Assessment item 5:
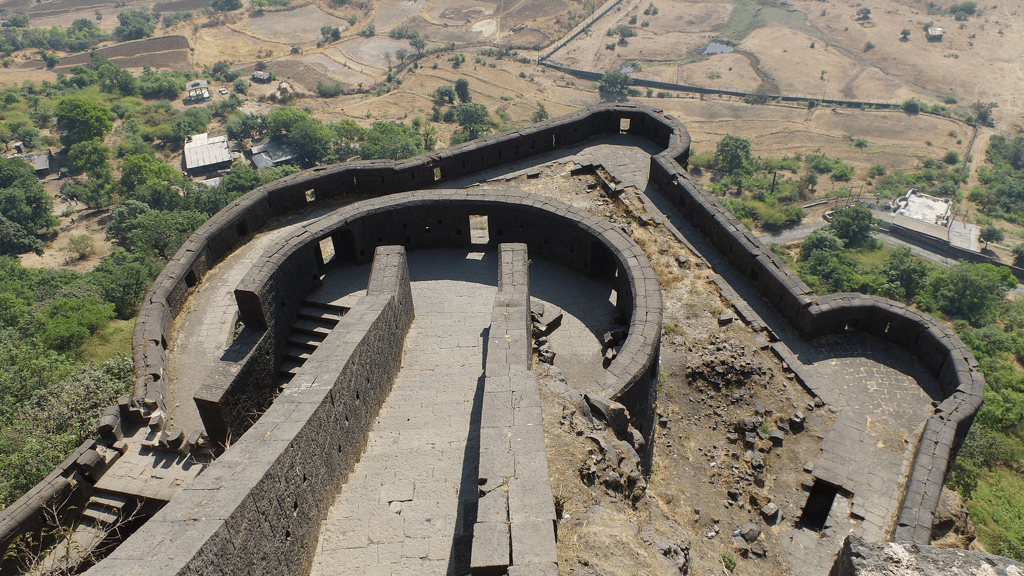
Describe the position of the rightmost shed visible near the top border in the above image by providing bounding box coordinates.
[921,26,946,42]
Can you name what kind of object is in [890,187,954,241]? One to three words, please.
house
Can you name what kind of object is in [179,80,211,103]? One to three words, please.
building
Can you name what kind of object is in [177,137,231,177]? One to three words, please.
house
